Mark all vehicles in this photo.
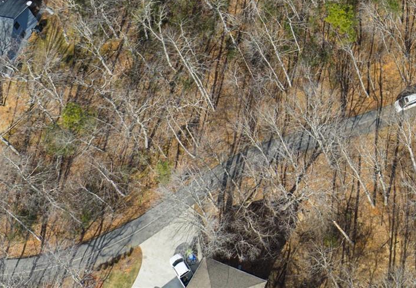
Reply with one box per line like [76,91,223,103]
[167,251,193,288]
[396,92,416,111]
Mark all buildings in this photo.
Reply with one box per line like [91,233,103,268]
[0,0,50,71]
[187,257,267,288]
